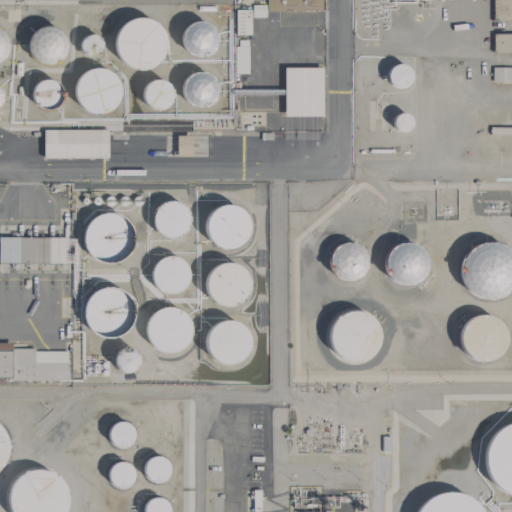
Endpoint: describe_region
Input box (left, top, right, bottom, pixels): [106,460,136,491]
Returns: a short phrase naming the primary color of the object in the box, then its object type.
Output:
white storage tank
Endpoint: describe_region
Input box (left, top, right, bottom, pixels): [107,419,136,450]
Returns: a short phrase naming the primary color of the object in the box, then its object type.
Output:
white storage tank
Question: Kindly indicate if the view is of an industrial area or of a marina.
industrial area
